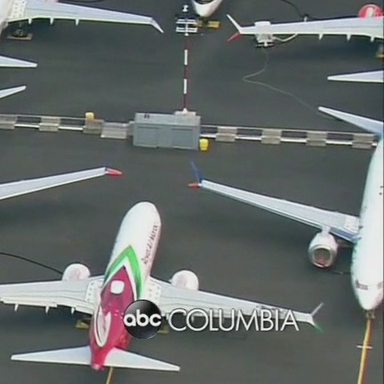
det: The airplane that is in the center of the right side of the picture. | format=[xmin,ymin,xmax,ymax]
[194,103,384,315]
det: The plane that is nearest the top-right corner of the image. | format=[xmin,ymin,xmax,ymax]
[231,7,384,84]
